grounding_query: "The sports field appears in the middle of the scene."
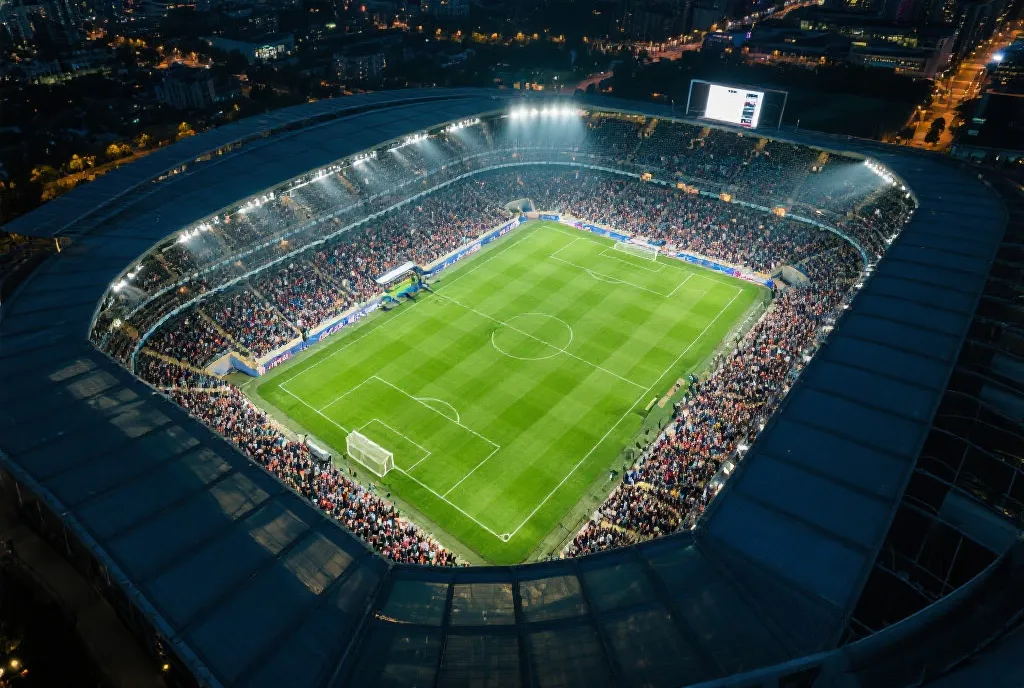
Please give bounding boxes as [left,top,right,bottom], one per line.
[262,218,752,554]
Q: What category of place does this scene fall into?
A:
sports ground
